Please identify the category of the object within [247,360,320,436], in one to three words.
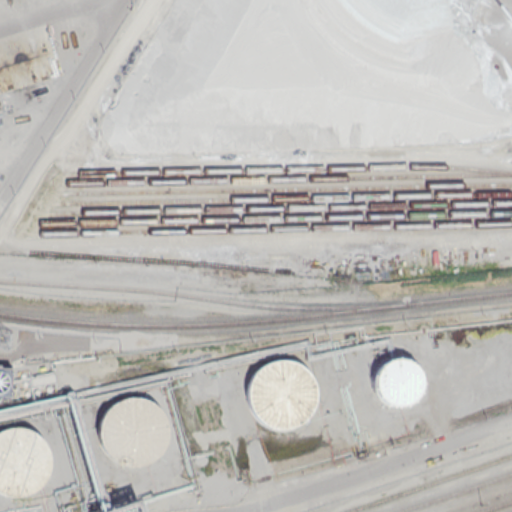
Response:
storage tank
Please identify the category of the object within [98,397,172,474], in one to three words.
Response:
storage tank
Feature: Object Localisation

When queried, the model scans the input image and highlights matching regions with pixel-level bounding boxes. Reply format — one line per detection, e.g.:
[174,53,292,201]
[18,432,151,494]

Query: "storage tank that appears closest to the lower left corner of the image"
[0,427,54,502]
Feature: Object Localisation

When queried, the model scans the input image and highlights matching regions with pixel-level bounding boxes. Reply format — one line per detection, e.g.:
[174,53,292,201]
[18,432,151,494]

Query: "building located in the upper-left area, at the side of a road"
[0,24,60,91]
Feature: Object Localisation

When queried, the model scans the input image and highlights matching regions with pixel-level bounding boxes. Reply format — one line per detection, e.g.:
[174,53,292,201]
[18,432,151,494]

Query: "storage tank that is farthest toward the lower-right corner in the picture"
[372,358,426,414]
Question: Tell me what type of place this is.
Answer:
industrial area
